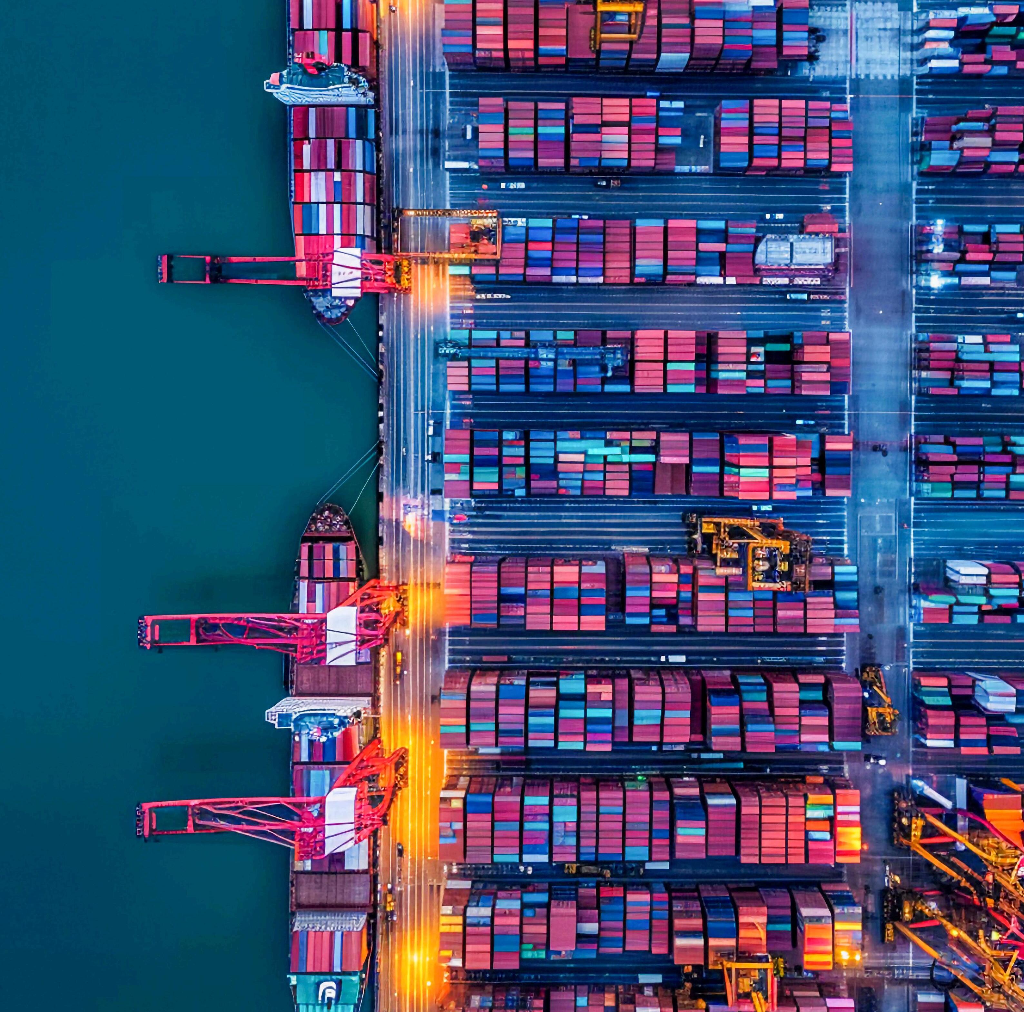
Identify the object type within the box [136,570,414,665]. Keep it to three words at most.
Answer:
container crane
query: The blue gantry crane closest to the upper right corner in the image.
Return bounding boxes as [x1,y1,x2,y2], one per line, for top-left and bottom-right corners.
[438,342,629,376]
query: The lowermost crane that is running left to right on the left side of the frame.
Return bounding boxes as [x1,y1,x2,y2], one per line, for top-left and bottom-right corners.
[134,733,414,857]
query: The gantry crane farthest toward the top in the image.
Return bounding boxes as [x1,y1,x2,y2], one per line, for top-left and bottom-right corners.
[595,1,643,63]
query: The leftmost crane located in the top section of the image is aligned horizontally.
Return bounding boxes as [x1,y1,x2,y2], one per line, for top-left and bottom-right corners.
[156,242,414,317]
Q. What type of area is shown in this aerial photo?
port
